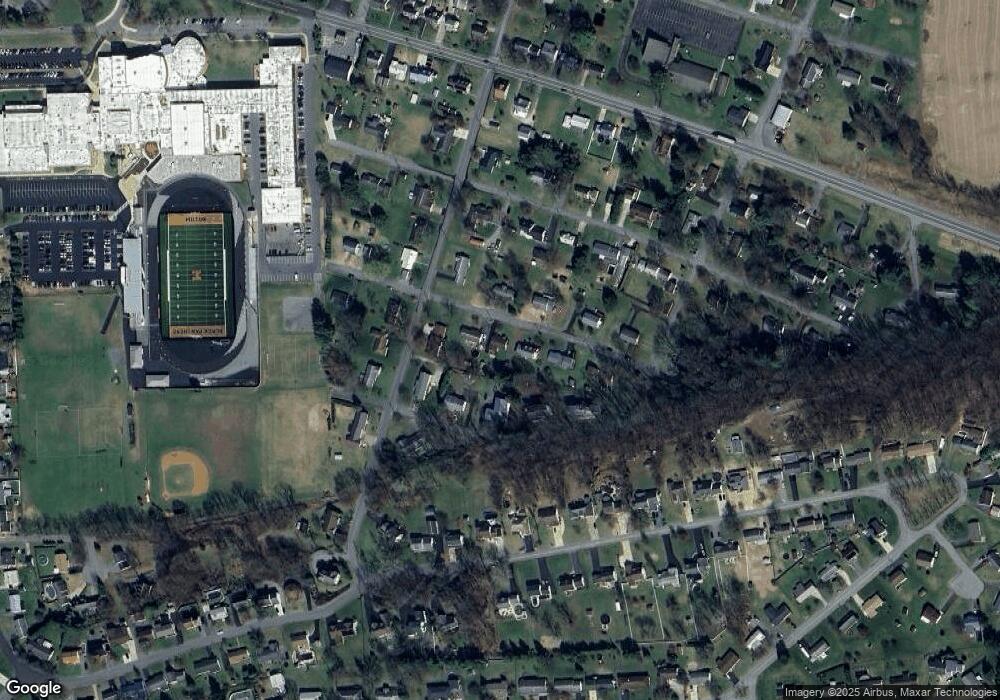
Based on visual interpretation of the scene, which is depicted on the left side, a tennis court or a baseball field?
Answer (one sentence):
You can see a baseball field on the left side.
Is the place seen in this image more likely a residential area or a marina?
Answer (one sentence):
The picture captures a residential area.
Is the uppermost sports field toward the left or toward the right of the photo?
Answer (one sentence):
You can find the uppermost sports field on the left side of the picture.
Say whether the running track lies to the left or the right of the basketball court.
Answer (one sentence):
In the image, the running track sits on the left side of the basketball court.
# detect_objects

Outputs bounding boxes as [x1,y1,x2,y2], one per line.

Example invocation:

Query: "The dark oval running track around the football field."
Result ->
[136,176,259,387]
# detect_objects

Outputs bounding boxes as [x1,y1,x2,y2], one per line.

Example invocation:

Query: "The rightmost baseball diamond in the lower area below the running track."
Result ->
[160,450,208,500]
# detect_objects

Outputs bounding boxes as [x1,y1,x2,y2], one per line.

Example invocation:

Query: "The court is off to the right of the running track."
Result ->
[283,297,312,331]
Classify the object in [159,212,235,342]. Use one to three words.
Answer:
sports field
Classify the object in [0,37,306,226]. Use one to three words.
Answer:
building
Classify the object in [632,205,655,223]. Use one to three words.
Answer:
house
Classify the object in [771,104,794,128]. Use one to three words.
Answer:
house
